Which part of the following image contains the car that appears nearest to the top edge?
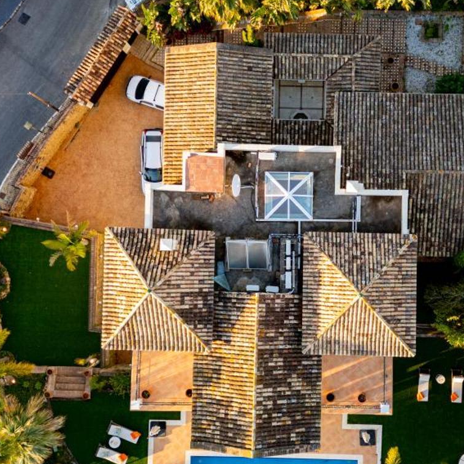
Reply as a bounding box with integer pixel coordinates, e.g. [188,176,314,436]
[122,72,165,111]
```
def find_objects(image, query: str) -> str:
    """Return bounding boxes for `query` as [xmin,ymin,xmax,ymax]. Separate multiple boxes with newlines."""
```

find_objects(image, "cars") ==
[134,126,164,196]
[122,72,165,111]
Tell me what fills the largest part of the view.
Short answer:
buildings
